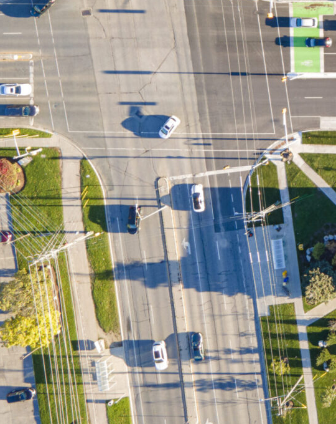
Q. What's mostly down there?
paved ground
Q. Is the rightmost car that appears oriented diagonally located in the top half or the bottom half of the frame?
top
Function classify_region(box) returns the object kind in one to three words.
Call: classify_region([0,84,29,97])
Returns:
vehicle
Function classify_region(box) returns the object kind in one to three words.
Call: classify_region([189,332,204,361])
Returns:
car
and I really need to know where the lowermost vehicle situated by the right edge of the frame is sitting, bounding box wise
[304,36,332,49]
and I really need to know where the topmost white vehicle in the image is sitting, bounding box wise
[292,16,318,29]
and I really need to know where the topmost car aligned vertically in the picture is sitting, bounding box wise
[191,182,205,211]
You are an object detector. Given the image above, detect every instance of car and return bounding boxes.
[0,84,29,97]
[153,340,168,369]
[304,36,332,49]
[158,112,181,140]
[292,16,318,29]
[191,182,205,211]
[6,387,36,402]
[189,332,204,361]
[0,230,10,243]
[30,0,58,19]
[126,204,141,232]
